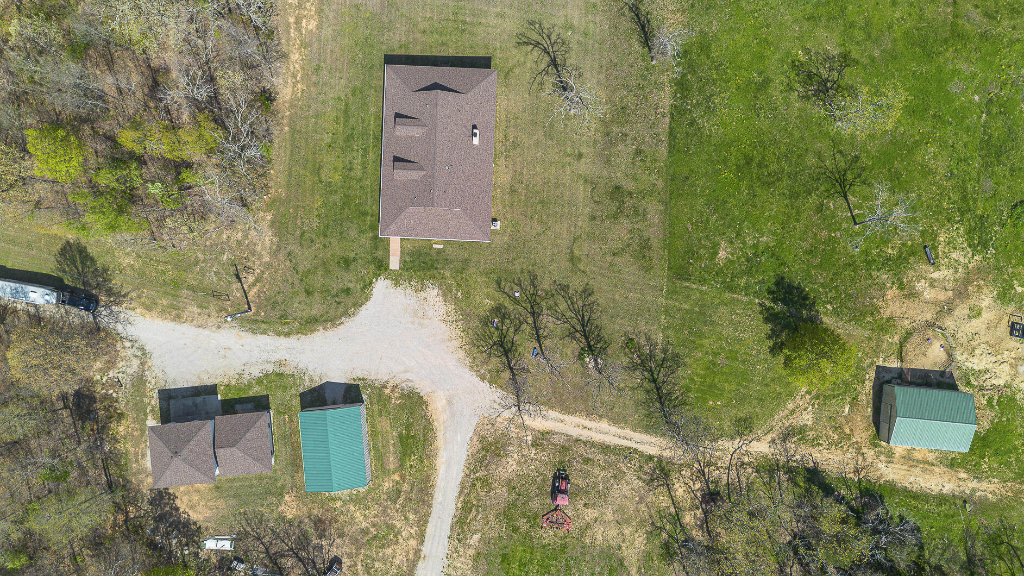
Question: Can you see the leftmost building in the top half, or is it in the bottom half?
bottom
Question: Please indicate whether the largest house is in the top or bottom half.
top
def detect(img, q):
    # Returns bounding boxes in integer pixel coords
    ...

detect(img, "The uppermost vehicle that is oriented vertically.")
[556,462,572,504]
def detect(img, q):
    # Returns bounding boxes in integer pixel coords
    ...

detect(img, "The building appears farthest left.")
[147,411,276,489]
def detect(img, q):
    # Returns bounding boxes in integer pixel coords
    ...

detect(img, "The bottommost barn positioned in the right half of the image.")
[877,384,977,452]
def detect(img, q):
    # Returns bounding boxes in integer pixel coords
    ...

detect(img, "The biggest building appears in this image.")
[378,64,498,243]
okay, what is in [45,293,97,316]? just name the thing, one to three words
truck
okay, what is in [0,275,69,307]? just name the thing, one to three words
trailer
